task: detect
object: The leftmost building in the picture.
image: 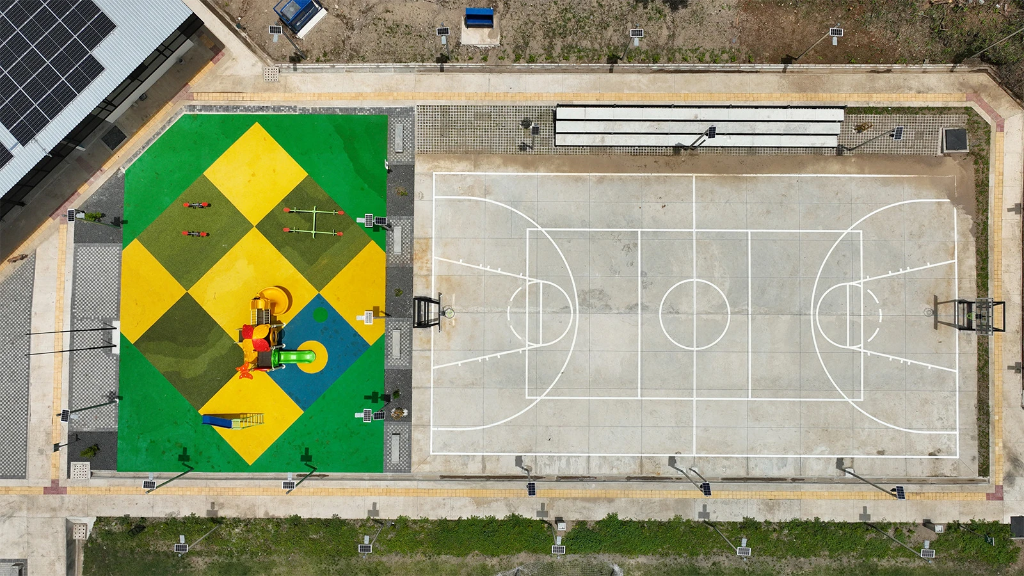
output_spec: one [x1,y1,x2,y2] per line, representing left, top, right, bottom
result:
[0,0,205,232]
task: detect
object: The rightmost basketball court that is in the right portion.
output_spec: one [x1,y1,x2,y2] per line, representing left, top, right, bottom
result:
[412,154,978,478]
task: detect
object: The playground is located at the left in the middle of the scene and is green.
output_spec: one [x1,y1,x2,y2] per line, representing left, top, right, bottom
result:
[117,114,388,473]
